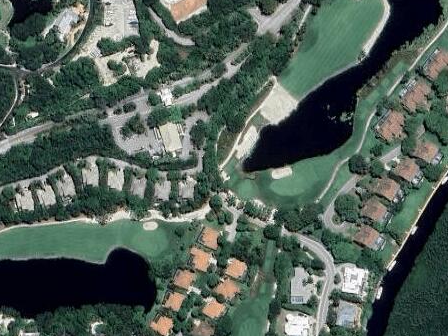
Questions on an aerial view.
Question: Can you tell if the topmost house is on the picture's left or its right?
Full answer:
The topmost house sits on the left side.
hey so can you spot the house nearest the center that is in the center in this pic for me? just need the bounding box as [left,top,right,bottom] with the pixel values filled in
[179,176,196,200]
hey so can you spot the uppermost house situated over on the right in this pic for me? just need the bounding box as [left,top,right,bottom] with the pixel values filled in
[424,50,448,82]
